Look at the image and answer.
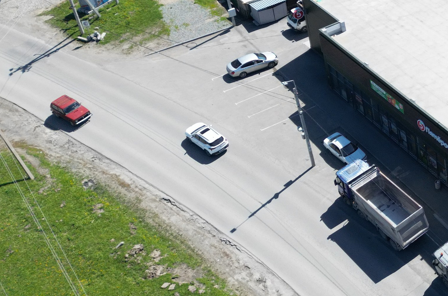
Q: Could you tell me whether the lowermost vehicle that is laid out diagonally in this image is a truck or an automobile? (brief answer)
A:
truck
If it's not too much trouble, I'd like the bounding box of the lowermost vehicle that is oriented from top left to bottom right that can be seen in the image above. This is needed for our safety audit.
[323,165,427,257]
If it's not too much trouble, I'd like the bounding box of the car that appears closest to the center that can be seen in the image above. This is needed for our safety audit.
[186,125,230,158]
